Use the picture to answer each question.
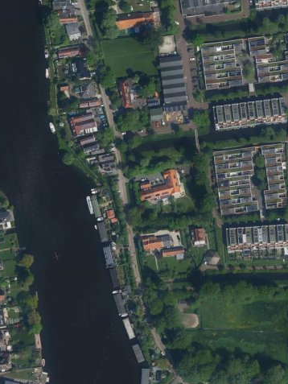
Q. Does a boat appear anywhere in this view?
Yes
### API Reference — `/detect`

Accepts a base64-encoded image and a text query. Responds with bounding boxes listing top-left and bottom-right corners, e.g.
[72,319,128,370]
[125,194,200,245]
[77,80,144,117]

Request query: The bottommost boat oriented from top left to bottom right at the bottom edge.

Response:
[130,344,147,365]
